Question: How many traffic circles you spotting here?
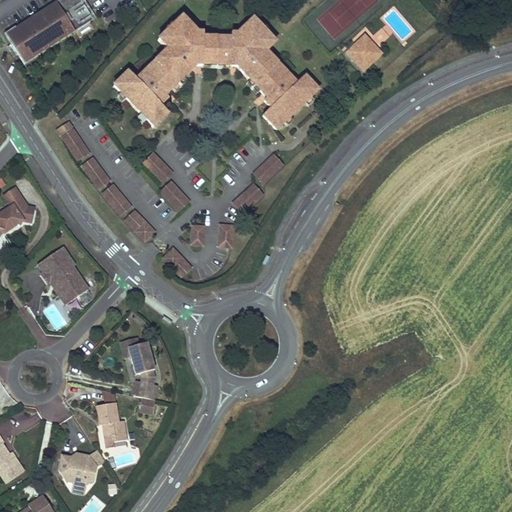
2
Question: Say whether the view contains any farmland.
Yes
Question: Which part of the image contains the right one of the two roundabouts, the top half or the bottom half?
bottom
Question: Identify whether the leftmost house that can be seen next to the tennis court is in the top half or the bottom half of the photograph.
top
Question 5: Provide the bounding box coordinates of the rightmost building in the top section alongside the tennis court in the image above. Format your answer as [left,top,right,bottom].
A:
[345,33,383,72]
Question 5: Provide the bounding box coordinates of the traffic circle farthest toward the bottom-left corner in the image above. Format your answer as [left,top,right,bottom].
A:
[7,350,63,404]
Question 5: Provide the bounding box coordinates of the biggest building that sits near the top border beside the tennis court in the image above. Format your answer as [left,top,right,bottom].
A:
[114,12,320,130]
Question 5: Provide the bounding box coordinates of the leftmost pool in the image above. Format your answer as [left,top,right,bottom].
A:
[42,292,72,332]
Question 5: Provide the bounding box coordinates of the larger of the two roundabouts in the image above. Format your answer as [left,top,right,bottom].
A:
[195,293,298,396]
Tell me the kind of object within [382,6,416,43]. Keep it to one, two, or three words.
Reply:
swimming pool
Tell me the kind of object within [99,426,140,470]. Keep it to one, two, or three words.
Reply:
swimming pool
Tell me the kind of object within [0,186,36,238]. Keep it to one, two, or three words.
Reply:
house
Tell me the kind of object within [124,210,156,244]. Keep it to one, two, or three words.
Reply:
building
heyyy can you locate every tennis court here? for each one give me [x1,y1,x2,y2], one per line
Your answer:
[301,0,392,51]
